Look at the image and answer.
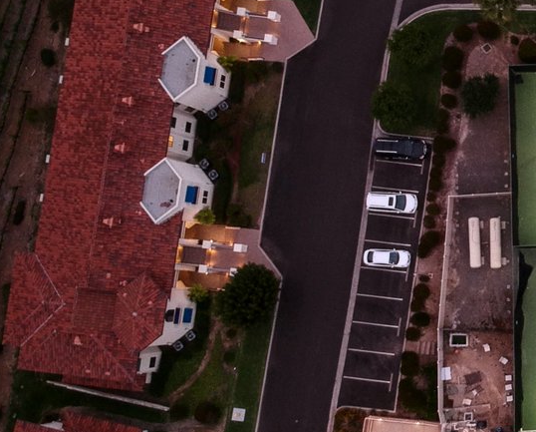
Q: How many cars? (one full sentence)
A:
I count 3 cars.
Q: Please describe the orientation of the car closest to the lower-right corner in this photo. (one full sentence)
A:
The car closest to the lower-right corner runs horizontally in the image.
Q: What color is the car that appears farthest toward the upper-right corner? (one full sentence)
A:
The car that appears farthest toward the upper-right corner looks black in the image.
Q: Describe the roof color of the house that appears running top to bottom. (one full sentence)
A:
The roof of the house that appears running top to bottom is red.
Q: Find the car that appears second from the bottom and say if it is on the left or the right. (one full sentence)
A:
The car that appears second from the bottom is on the right side of the image.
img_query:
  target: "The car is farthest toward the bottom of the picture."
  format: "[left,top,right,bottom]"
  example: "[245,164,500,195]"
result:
[364,248,411,270]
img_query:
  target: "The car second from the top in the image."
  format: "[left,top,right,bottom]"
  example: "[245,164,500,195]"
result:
[368,191,416,215]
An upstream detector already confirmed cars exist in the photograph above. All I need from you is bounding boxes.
[364,248,411,270]
[377,137,425,159]
[368,191,416,215]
